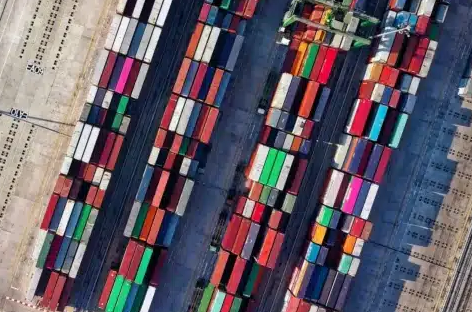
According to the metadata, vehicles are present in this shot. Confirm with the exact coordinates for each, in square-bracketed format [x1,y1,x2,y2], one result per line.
[276,20,288,35]
[208,208,229,253]
[188,278,205,312]
[281,20,295,47]
[255,71,276,116]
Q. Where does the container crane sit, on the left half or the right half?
right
